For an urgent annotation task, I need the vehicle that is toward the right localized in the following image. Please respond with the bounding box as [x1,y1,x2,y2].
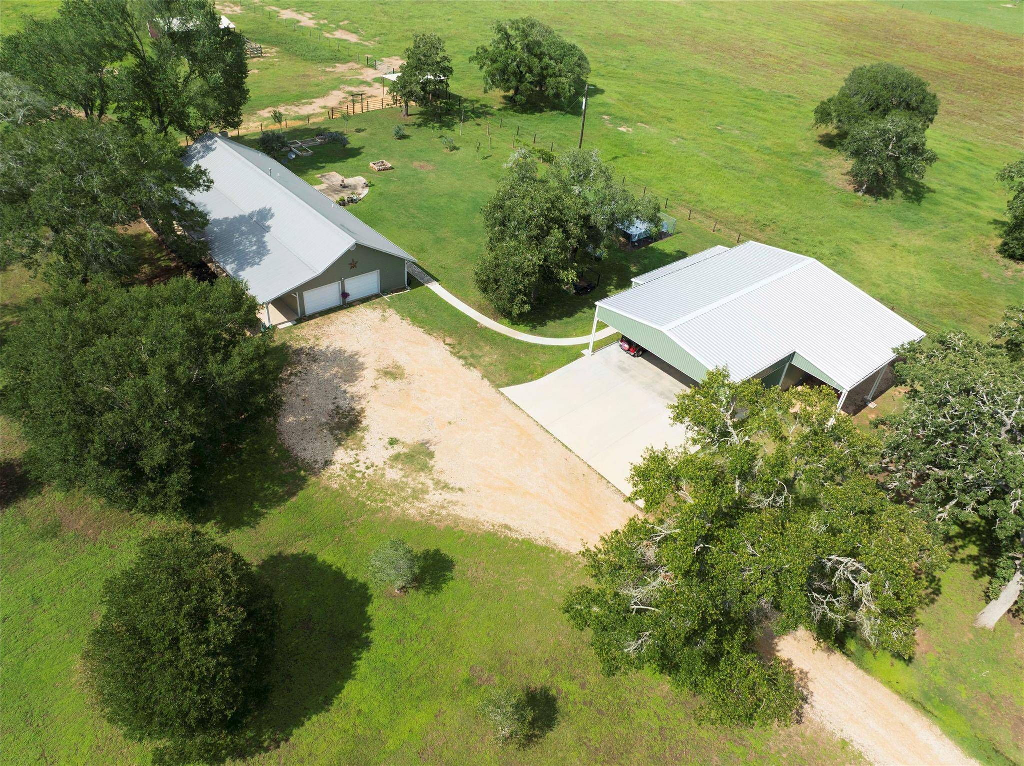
[616,339,641,358]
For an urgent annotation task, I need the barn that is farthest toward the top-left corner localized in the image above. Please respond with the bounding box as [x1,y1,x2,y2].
[196,15,237,49]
